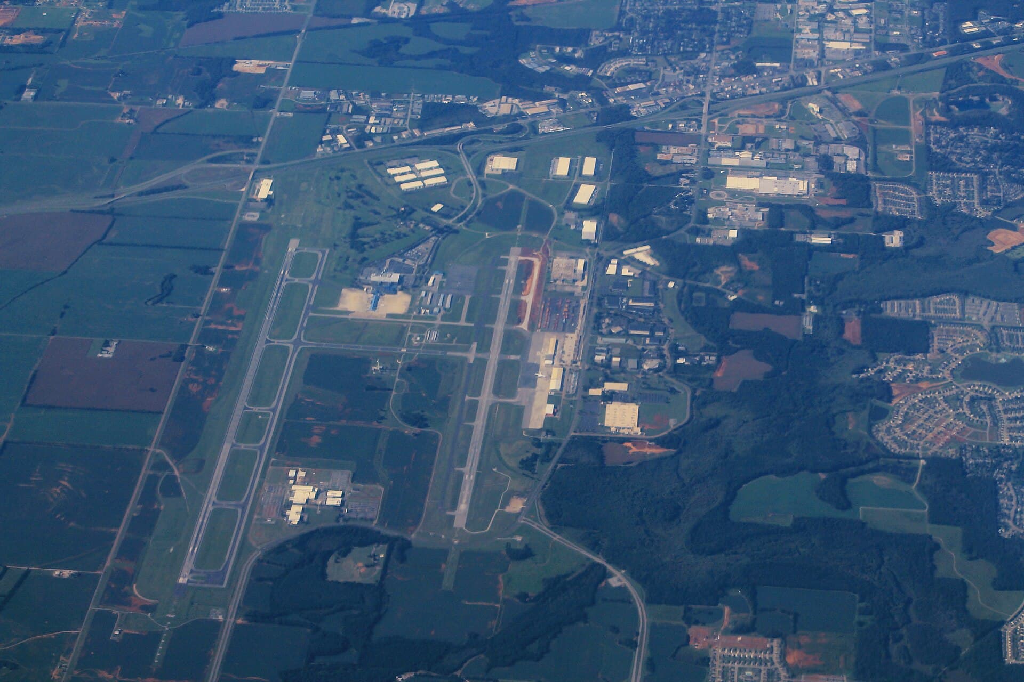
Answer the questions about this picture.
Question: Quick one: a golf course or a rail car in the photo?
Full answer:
The image shows a golf course.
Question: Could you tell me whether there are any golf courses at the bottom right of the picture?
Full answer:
No, no golf course is visible at the bottom right of the picture.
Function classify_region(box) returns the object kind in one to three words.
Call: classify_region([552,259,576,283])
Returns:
building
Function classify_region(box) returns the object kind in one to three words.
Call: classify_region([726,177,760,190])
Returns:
building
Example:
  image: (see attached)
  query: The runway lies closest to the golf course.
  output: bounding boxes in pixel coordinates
[179,247,296,582]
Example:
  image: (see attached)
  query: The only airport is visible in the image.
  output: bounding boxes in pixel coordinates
[133,134,614,628]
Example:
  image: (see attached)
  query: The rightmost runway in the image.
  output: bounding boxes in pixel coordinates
[453,249,519,532]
